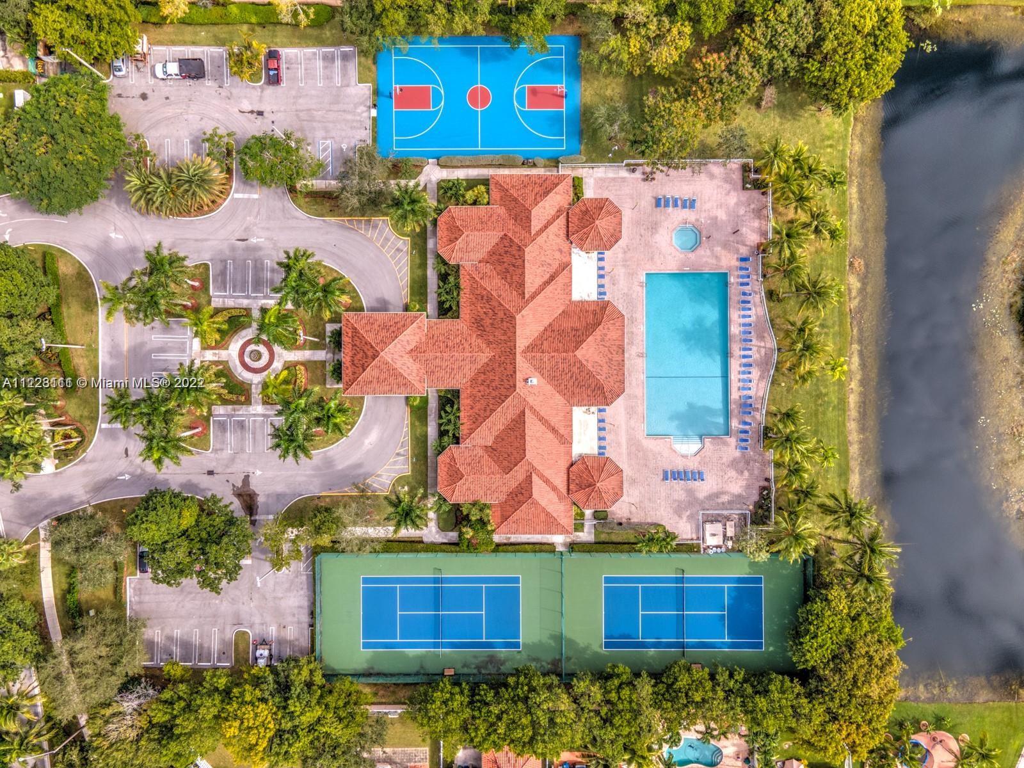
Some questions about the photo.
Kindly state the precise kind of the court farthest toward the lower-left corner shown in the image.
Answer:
tennis court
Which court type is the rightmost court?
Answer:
tennis court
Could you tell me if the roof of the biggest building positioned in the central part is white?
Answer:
No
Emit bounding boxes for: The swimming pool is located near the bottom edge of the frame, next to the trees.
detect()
[664,735,725,768]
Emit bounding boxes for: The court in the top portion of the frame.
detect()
[378,36,581,158]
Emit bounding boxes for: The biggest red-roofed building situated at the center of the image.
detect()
[341,173,625,536]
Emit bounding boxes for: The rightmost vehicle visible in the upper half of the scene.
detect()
[264,48,281,84]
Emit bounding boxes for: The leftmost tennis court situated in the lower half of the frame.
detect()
[318,554,563,674]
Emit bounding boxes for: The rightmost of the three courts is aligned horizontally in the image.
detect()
[563,554,806,674]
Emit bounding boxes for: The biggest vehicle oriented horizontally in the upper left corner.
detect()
[153,56,203,78]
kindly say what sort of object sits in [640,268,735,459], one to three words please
swimming pool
